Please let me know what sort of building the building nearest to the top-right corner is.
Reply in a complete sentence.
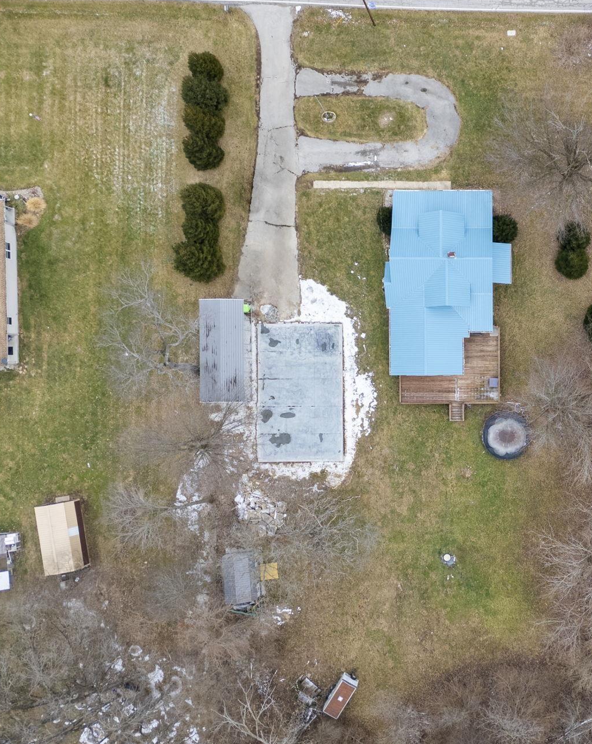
The building nearest to the top-right corner in the image is a home.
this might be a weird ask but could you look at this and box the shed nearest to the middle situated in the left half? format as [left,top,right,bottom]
[199,298,252,403]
